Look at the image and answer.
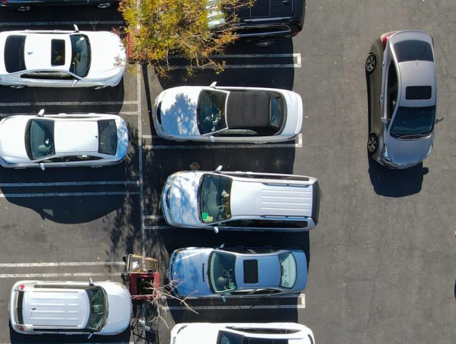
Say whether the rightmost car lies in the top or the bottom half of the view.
top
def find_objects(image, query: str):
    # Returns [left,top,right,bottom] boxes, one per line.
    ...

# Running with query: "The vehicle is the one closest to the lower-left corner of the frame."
[10,275,130,342]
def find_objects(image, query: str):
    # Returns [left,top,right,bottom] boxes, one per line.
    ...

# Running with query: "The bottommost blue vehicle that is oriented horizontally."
[167,241,307,305]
